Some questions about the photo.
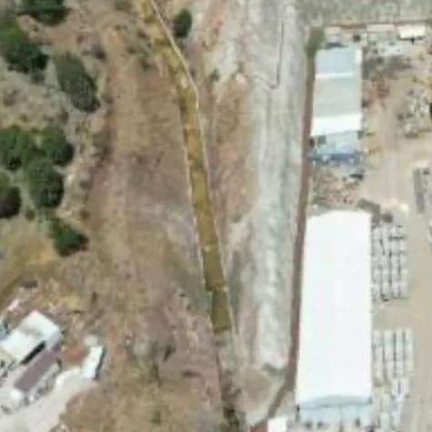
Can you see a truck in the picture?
Yes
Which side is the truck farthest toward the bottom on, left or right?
left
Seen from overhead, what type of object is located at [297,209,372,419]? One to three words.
building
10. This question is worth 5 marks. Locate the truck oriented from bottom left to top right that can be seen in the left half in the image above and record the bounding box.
[40,366,76,398]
